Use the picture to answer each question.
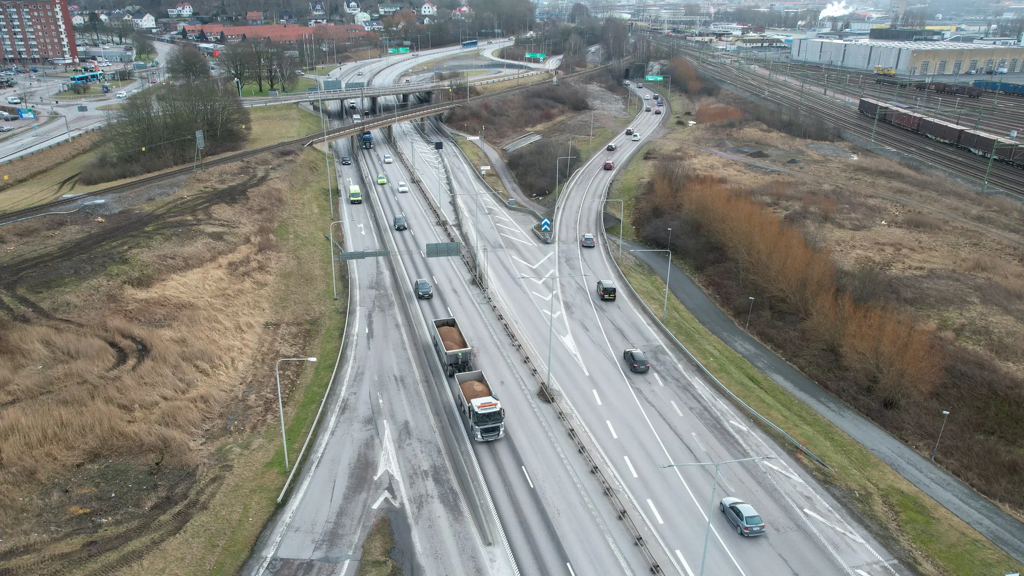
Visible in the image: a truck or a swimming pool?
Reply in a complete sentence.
There is a truck in the scene.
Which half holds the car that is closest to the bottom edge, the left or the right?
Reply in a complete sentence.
The car that is closest to the bottom edge appears in the right half of the scene.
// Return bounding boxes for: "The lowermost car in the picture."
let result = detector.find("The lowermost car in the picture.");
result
[715,490,764,536]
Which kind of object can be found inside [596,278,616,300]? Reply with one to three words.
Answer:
vehicle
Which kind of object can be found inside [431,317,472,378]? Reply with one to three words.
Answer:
trailer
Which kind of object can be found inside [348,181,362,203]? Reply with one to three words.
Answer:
vehicle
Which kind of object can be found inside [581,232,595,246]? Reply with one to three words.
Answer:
car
